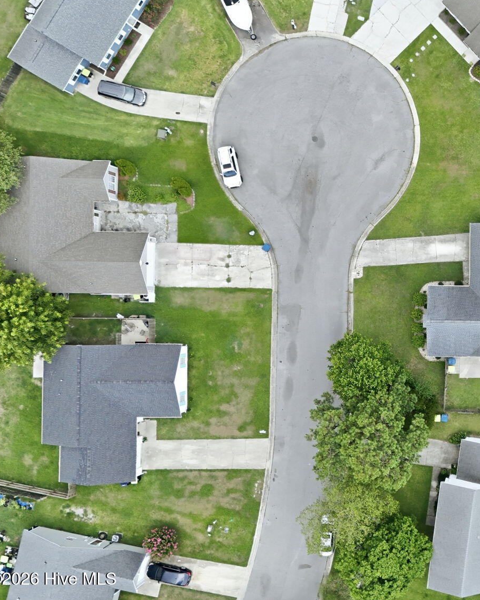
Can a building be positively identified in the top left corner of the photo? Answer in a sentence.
Yes, I can see a building in the top left corner of the photo.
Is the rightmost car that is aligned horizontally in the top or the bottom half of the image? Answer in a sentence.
The rightmost car that is aligned horizontally is in the bottom half of the image.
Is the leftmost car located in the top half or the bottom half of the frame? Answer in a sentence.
The leftmost car sits in the top half of the picture.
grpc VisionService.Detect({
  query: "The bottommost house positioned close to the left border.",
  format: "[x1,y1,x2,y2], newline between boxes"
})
[8,526,151,600]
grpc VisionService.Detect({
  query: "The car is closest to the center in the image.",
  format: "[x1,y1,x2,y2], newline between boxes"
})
[218,144,243,189]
